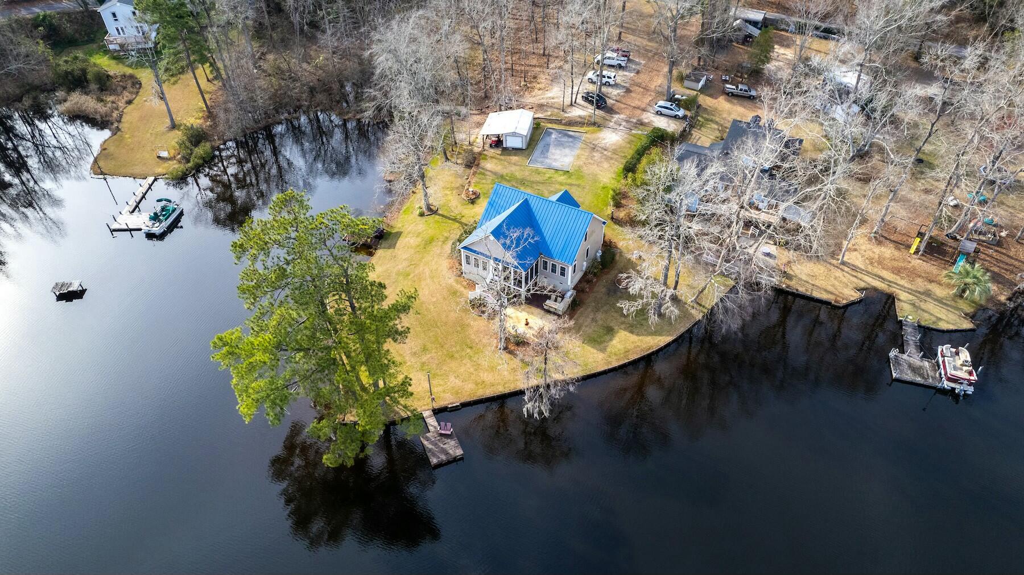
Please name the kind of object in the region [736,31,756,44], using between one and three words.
vehicle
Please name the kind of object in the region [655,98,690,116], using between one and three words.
car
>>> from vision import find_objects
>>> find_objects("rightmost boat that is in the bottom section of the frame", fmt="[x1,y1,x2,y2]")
[933,347,978,405]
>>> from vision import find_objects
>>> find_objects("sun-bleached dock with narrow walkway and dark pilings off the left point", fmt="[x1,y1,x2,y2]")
[106,177,156,236]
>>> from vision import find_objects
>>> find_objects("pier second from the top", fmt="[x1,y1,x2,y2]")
[887,313,942,389]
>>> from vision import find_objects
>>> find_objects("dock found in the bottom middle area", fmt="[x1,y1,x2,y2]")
[420,410,465,471]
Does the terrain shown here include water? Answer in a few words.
Yes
